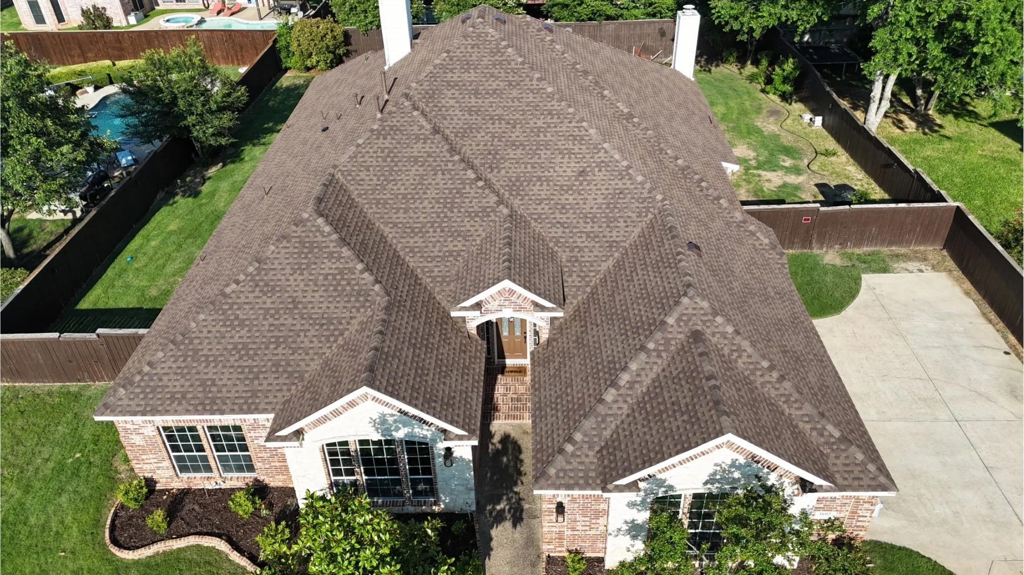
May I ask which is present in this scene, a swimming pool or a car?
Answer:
swimming pool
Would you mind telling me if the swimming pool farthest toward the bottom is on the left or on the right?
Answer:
left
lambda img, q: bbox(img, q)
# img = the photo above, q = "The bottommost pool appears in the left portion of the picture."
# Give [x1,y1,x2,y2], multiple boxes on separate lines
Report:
[67,85,184,150]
